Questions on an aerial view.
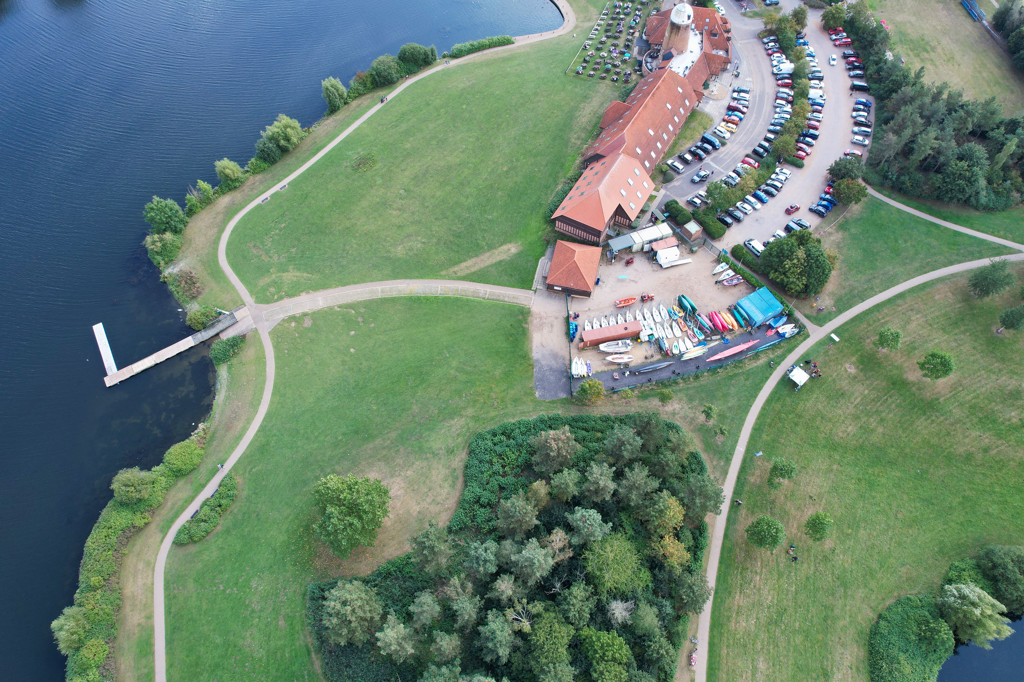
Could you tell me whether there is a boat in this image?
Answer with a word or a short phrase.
Yes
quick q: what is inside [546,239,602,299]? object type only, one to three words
building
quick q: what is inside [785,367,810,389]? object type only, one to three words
gazebo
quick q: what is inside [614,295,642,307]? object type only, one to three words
boat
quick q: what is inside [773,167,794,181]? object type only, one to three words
car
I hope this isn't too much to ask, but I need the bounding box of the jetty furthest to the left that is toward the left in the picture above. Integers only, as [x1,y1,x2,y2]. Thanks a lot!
[93,323,118,375]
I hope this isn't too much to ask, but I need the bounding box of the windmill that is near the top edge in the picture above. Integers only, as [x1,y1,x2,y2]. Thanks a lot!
[658,0,694,65]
